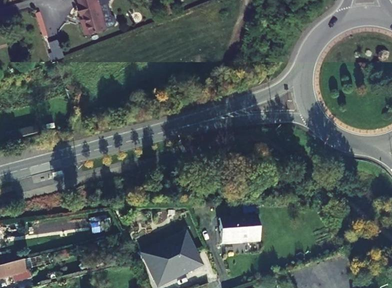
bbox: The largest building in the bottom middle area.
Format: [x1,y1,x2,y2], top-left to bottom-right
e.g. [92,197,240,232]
[140,230,203,287]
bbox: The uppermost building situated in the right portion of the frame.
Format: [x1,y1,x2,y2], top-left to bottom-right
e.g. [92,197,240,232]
[220,212,263,244]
